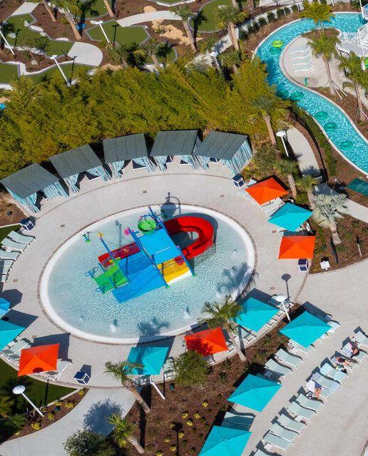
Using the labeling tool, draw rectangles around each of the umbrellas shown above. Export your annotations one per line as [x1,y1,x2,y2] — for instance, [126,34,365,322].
[184,326,227,362]
[0,318,28,355]
[280,236,317,260]
[200,425,252,456]
[123,347,170,380]
[16,342,60,379]
[268,203,312,233]
[281,311,332,350]
[230,297,278,333]
[245,177,288,211]
[227,373,282,414]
